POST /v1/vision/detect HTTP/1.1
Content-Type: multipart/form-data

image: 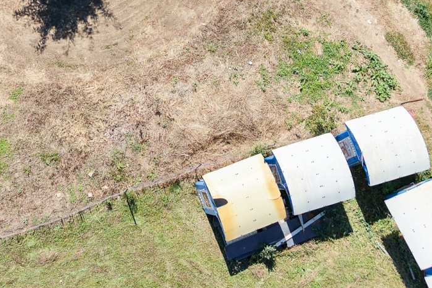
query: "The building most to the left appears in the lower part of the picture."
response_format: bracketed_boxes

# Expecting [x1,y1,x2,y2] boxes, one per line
[187,154,286,242]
